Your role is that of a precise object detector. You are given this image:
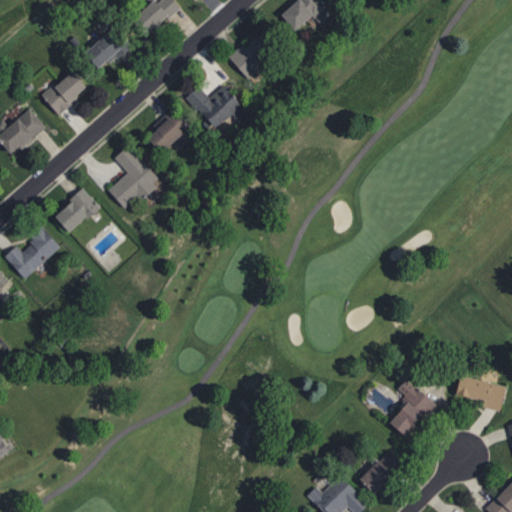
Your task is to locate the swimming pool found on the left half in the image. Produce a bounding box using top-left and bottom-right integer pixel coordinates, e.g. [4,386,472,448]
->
[86,222,126,272]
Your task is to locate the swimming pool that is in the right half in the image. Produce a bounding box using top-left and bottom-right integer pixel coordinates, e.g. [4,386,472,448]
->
[364,382,399,415]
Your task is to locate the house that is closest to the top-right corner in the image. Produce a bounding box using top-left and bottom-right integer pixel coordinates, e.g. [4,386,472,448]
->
[281,0,324,31]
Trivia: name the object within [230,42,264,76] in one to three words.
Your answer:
house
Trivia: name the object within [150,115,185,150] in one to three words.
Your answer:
house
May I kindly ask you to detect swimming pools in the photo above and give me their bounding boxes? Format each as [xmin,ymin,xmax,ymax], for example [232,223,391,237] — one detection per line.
[86,222,126,272]
[364,382,399,415]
